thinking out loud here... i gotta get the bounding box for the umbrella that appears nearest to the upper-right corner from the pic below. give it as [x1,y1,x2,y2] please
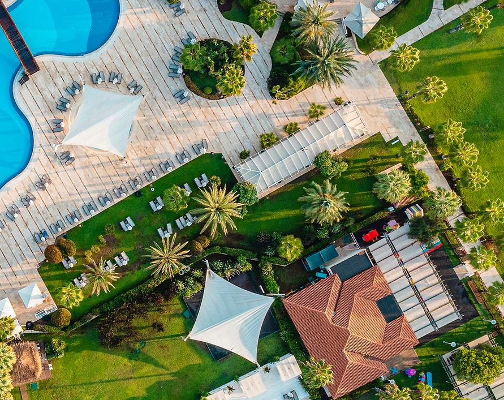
[340,0,382,41]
